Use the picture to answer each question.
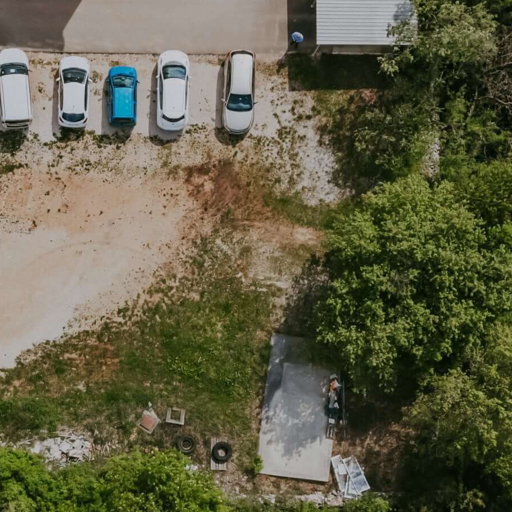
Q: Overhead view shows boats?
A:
No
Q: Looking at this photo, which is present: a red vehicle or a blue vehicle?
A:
blue vehicle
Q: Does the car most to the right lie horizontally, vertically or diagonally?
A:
vertically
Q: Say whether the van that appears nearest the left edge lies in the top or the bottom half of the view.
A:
top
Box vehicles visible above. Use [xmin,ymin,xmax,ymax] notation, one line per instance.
[105,65,140,127]
[0,49,33,130]
[154,49,194,132]
[221,49,261,133]
[54,55,92,130]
